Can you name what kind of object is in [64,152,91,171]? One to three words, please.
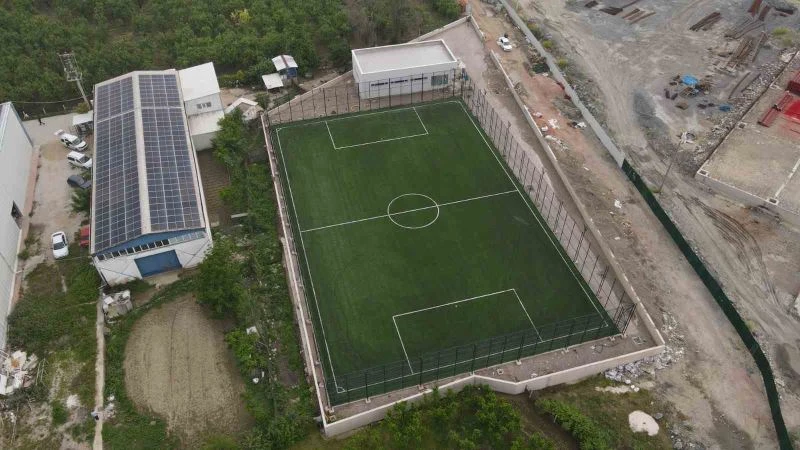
vehicle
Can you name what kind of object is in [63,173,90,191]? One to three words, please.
car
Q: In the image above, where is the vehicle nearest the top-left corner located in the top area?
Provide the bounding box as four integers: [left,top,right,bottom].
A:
[52,128,88,149]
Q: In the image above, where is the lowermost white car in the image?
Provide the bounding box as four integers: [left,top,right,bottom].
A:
[48,233,68,259]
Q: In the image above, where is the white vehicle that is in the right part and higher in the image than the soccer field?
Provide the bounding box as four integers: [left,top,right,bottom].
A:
[496,38,512,50]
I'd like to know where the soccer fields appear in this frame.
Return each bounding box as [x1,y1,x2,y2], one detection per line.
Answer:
[270,94,626,410]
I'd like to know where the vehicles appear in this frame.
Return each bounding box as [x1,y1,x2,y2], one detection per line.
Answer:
[52,128,88,149]
[48,233,68,259]
[63,173,90,191]
[64,152,91,171]
[77,224,89,248]
[496,38,512,50]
